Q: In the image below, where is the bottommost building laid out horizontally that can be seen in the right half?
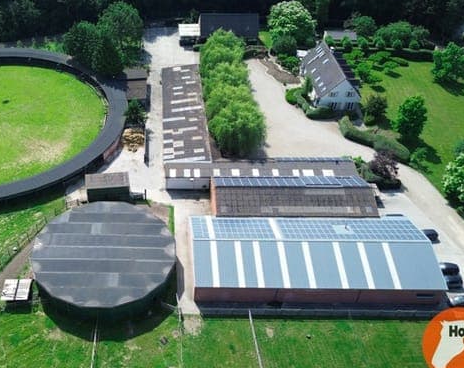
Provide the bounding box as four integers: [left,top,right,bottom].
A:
[186,216,447,305]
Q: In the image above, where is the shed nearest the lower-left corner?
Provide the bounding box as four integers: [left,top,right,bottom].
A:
[2,278,32,309]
